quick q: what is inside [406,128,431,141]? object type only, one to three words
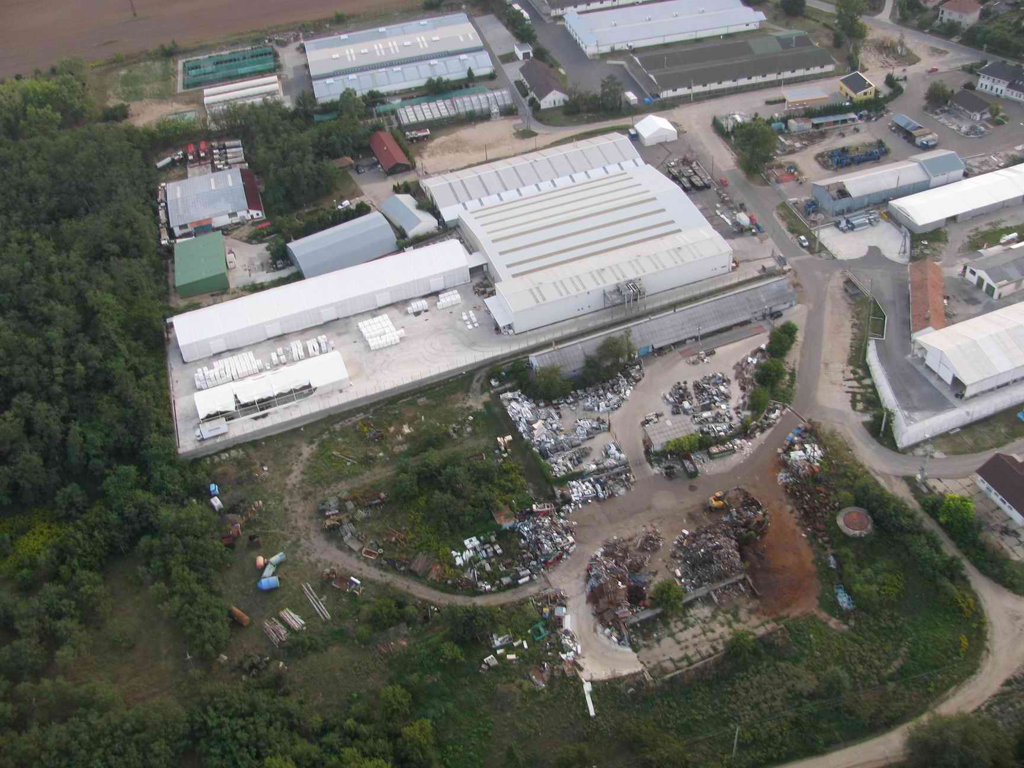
vehicle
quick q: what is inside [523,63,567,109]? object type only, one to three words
house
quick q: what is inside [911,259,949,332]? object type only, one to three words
shed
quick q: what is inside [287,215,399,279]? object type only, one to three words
building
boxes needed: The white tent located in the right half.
[633,112,676,146]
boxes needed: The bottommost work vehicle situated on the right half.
[706,482,738,512]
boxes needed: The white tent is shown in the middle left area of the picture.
[195,352,348,425]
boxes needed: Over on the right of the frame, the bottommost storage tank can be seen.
[833,506,875,538]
